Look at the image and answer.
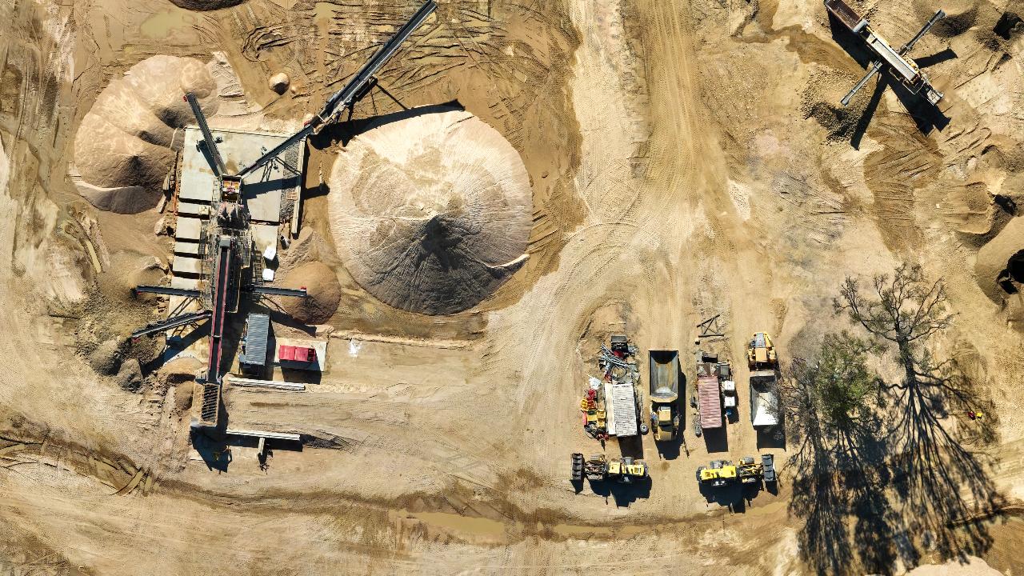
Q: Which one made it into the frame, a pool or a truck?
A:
truck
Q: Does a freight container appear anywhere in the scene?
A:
Yes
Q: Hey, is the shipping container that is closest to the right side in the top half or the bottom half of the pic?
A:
bottom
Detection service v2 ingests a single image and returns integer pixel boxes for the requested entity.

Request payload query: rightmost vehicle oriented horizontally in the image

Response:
[697,455,780,492]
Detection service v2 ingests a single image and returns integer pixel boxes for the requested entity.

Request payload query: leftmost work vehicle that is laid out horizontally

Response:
[562,456,644,485]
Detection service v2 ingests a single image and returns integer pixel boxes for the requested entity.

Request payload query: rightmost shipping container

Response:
[697,374,724,430]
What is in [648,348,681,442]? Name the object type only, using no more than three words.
truck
